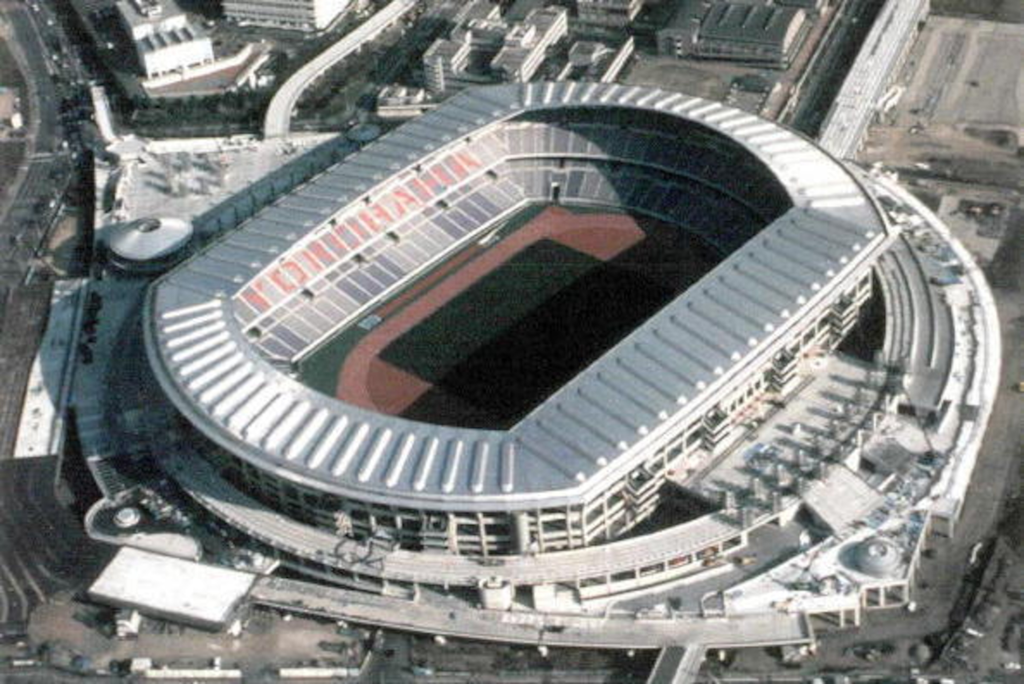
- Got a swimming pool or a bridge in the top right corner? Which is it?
bridge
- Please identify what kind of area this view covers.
sports ground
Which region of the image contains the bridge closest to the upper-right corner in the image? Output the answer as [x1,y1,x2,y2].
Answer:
[818,0,929,165]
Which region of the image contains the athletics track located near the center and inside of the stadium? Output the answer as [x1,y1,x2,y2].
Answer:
[338,215,703,430]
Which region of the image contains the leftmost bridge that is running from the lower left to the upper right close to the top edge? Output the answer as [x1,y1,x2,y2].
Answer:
[264,0,417,137]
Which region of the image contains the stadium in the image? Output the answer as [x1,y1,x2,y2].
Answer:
[151,83,887,559]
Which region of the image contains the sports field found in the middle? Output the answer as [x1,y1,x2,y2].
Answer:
[377,238,674,422]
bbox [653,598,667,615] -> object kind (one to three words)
vehicle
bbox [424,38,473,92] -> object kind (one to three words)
building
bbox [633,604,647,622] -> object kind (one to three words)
vehicle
